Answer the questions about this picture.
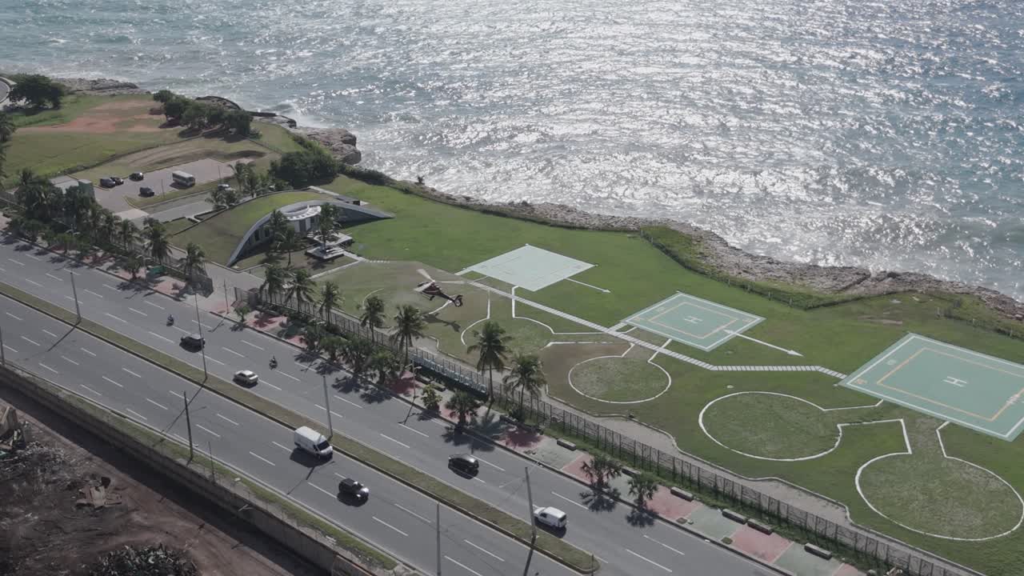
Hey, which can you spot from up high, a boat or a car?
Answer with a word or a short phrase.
car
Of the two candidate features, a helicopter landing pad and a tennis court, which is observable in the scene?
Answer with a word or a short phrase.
helicopter landing pad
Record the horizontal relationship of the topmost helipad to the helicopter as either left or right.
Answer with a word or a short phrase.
on the right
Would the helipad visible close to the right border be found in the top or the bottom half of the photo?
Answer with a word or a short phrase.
bottom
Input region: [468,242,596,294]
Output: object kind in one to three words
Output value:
helipad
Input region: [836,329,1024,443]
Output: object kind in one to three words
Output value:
helipad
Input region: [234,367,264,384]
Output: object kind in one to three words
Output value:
car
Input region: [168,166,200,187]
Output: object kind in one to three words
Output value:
vehicle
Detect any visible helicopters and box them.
[409,267,465,311]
